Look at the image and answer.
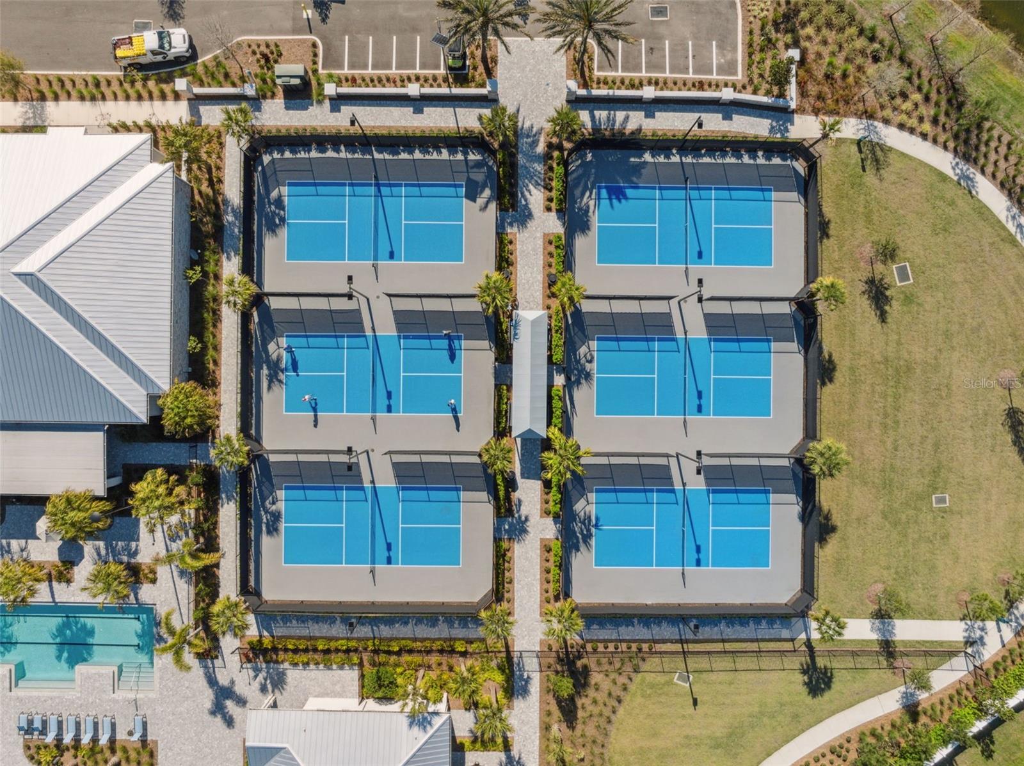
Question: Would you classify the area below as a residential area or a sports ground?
sports ground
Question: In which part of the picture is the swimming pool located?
bottom left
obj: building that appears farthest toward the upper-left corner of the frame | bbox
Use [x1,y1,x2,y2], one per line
[0,126,192,423]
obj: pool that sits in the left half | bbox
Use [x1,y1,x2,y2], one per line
[0,600,157,699]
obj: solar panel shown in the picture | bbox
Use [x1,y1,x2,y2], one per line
[430,28,450,47]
